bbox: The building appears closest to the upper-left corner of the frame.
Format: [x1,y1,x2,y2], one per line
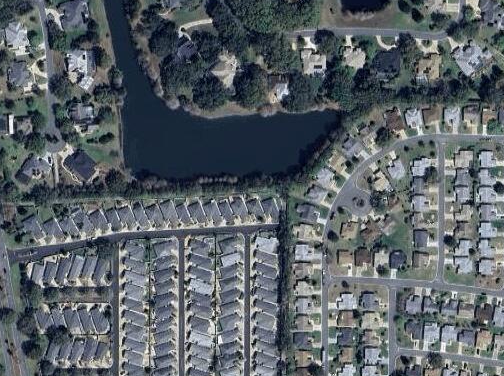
[4,21,32,48]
